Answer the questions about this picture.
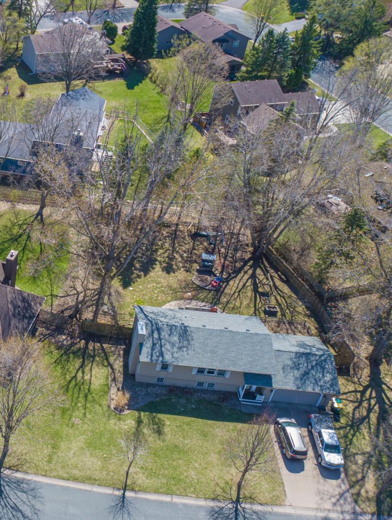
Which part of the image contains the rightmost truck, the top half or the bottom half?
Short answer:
bottom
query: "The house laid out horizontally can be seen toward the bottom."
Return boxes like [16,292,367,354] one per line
[124,305,340,408]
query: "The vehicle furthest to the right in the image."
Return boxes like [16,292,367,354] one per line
[308,412,346,470]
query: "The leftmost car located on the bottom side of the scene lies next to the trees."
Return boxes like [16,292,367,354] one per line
[274,414,313,458]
